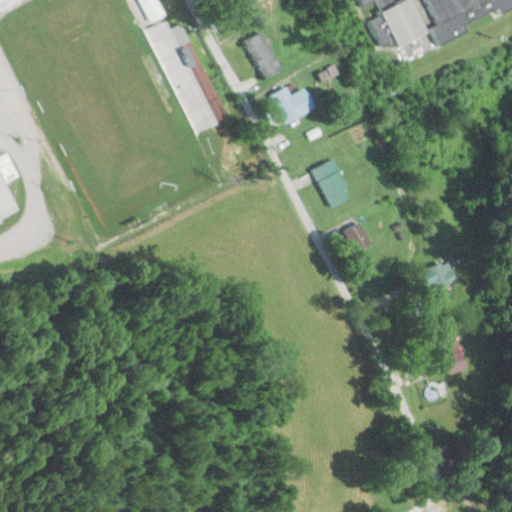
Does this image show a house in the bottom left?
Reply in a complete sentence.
No, no house is visible in the bottom left.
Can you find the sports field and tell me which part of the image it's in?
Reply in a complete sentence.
The sports field appears toward the top left of the photo.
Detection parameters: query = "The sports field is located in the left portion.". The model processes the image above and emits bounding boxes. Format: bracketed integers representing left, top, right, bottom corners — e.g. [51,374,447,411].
[0,0,219,241]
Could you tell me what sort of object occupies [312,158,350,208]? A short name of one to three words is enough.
house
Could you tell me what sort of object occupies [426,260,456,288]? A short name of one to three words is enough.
house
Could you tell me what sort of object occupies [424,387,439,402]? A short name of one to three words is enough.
swimming pool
